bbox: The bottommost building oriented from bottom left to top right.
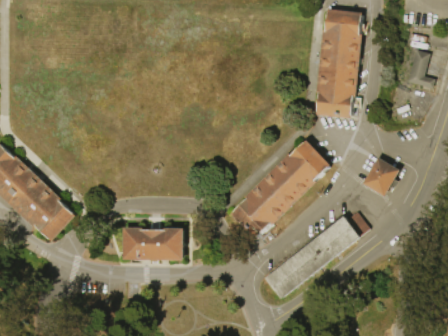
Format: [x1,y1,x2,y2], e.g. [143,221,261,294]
[266,217,360,299]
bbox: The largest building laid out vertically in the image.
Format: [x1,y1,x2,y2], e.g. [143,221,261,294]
[314,10,366,118]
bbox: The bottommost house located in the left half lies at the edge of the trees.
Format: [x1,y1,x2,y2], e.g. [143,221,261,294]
[123,228,186,264]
